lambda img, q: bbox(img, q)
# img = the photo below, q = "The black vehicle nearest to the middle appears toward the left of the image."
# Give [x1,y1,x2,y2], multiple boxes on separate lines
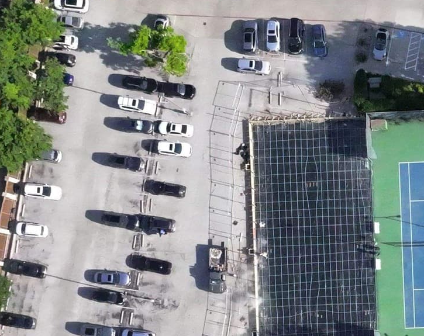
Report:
[149,179,186,199]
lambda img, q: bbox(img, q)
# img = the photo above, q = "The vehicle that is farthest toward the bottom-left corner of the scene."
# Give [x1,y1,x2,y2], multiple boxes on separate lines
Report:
[0,311,37,329]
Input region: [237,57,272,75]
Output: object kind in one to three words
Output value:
car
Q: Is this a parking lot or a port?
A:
parking lot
